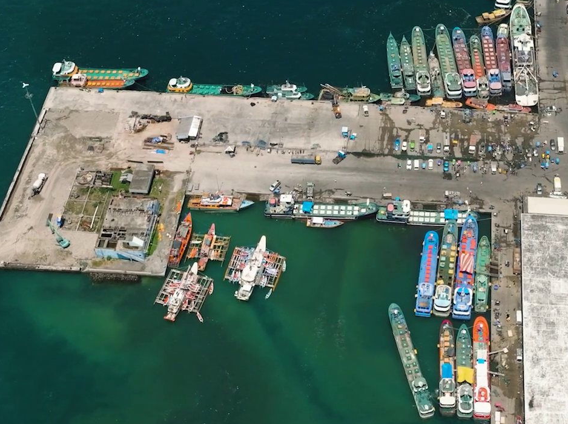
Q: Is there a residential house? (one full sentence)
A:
Yes, this view includes a residential house.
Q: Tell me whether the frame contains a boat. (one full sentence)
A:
Yes, this view includes a boat.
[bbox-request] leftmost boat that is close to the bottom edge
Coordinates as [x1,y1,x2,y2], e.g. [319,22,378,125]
[391,301,435,423]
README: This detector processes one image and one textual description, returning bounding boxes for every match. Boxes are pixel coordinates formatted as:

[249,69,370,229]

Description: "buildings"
[177,116,202,144]
[94,196,160,264]
[130,165,154,197]
[521,214,568,424]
